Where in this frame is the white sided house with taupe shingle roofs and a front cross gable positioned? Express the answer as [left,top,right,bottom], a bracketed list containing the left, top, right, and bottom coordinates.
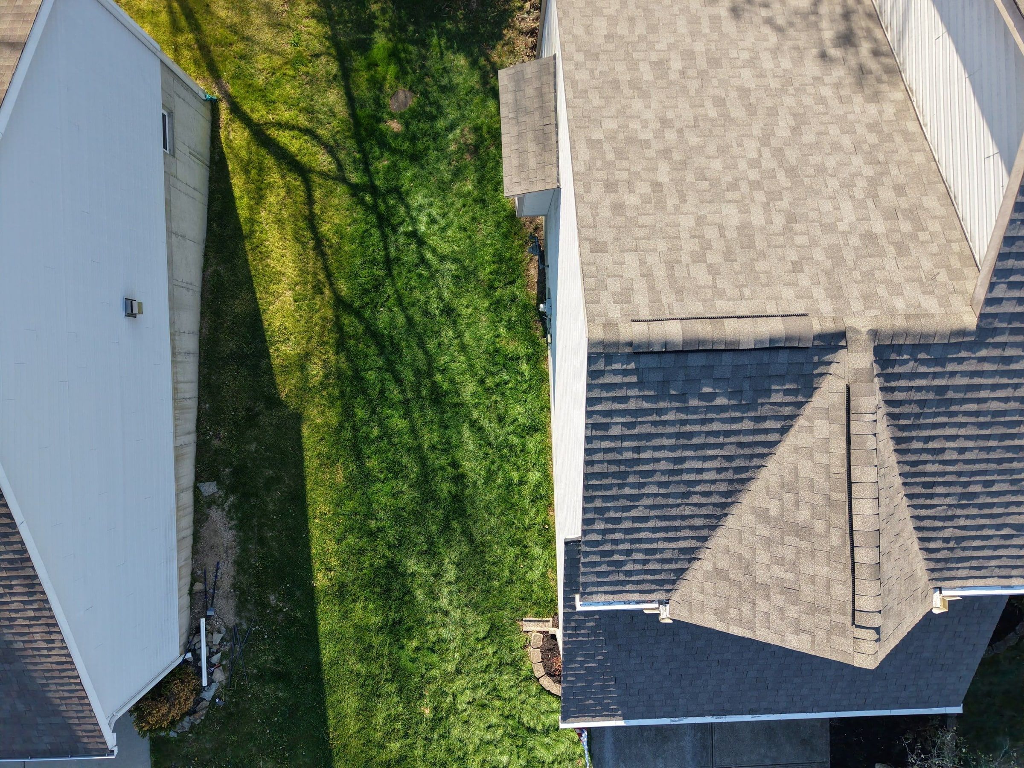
[497,0,1024,732]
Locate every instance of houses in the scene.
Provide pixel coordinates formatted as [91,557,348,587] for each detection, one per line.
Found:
[497,0,1024,732]
[0,0,208,754]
